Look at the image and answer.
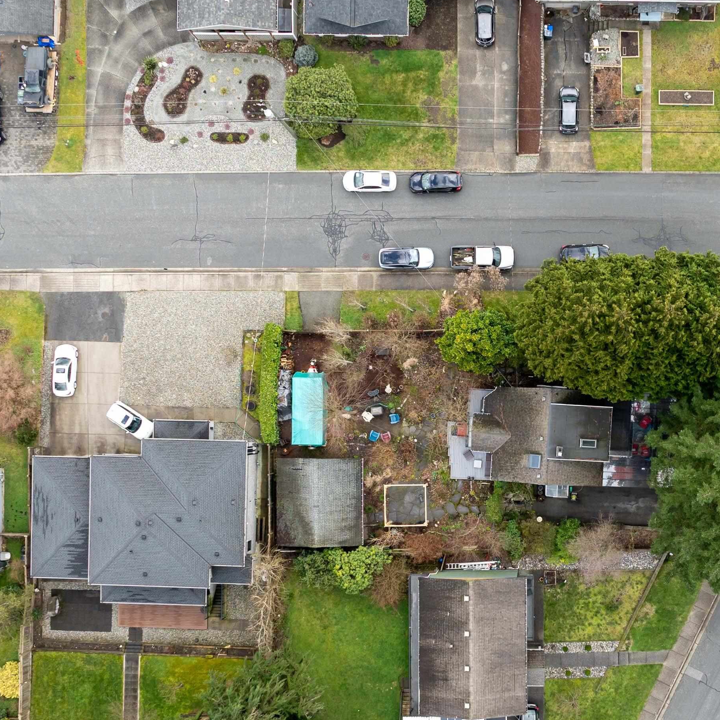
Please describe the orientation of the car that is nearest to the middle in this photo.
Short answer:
from side to side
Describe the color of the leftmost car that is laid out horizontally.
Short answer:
white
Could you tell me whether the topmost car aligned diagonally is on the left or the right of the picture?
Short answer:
left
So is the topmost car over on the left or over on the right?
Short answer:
right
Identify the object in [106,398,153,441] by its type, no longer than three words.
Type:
car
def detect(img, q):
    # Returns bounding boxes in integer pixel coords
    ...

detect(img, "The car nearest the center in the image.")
[379,245,434,270]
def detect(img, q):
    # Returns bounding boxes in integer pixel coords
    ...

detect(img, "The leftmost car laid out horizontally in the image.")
[343,168,398,194]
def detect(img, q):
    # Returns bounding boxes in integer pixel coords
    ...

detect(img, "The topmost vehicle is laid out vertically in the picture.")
[472,0,497,51]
